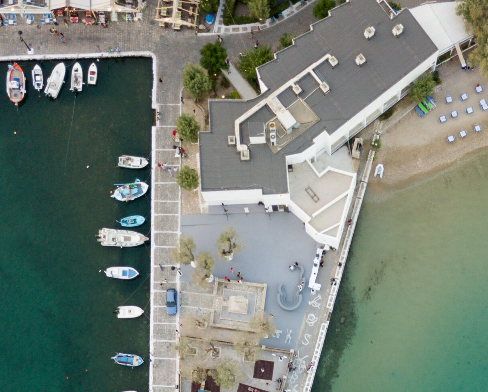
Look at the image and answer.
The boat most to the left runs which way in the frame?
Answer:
up and down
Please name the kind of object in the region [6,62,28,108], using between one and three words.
boat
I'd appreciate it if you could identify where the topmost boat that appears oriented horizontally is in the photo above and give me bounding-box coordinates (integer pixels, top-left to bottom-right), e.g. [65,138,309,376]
[117,156,150,169]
